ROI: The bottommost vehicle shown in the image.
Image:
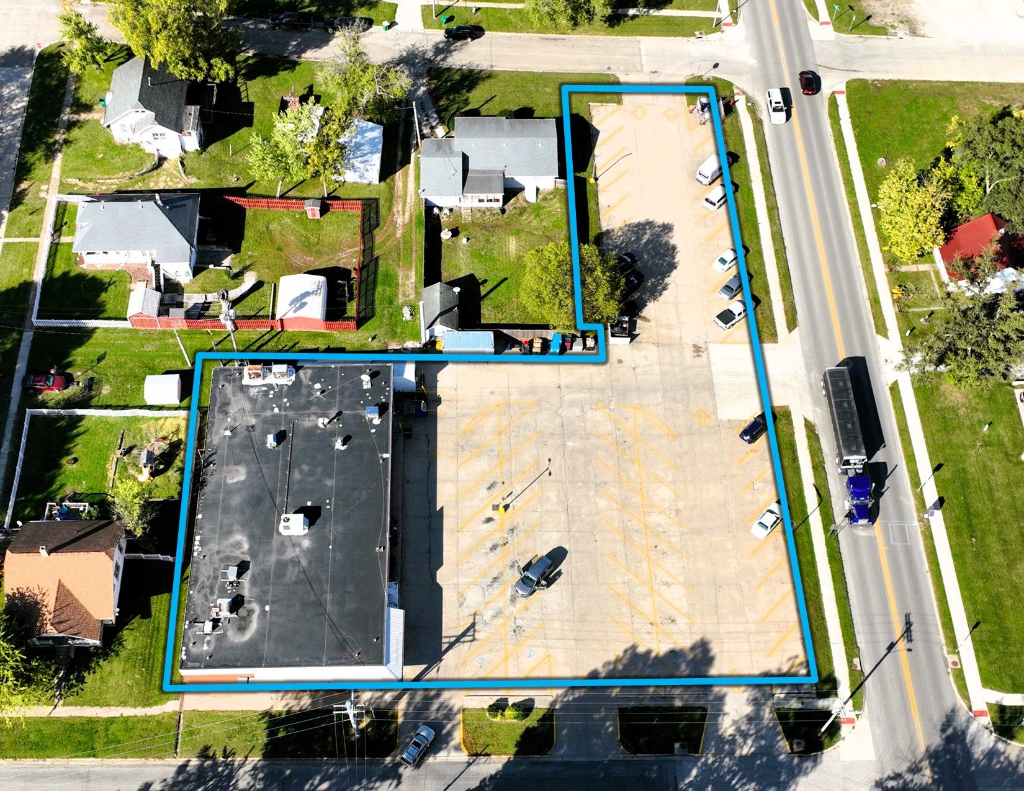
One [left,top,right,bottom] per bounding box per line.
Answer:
[396,719,436,772]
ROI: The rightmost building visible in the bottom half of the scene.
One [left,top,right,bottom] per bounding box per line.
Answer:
[179,357,417,693]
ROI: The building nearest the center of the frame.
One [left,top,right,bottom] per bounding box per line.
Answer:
[417,279,459,346]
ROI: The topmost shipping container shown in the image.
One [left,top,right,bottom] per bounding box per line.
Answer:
[443,331,495,360]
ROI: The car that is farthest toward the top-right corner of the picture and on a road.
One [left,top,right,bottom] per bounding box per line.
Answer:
[800,70,817,98]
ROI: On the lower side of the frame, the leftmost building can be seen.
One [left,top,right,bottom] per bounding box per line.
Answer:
[2,521,138,669]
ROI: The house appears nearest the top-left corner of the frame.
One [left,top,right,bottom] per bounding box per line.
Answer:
[103,57,221,167]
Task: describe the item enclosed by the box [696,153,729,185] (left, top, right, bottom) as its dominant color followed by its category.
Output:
white vehicle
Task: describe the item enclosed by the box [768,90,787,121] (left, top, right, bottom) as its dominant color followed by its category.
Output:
white car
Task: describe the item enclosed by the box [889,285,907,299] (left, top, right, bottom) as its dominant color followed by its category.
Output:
yellow work vehicle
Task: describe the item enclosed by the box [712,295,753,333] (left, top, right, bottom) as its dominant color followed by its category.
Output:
white truck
